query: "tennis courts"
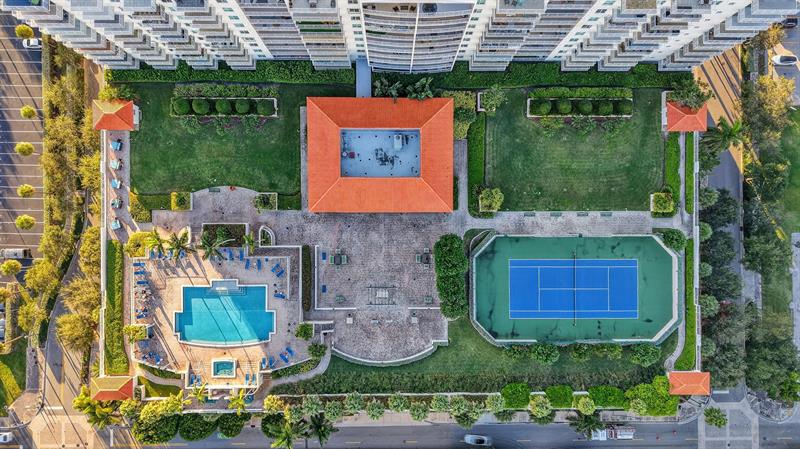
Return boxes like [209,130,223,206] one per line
[475,236,673,341]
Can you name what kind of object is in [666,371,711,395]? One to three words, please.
building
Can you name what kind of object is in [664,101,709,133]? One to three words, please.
building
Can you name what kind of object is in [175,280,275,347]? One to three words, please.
swimming pool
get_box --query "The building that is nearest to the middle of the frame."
[306,97,454,213]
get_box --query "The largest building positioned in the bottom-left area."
[90,375,134,401]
